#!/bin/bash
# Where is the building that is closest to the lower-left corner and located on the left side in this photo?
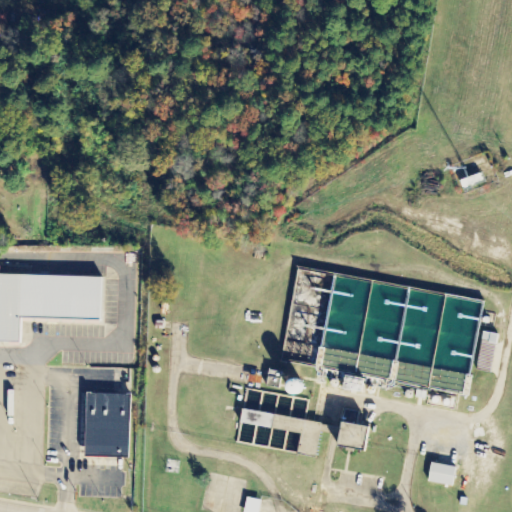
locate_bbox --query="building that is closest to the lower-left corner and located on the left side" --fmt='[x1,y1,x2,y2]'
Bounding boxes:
[85,392,132,458]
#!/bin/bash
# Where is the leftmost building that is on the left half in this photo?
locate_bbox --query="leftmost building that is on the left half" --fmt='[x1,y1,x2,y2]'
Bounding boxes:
[0,274,106,343]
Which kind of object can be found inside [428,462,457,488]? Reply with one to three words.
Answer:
building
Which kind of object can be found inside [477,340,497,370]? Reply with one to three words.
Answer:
shed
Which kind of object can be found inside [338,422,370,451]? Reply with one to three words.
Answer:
building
